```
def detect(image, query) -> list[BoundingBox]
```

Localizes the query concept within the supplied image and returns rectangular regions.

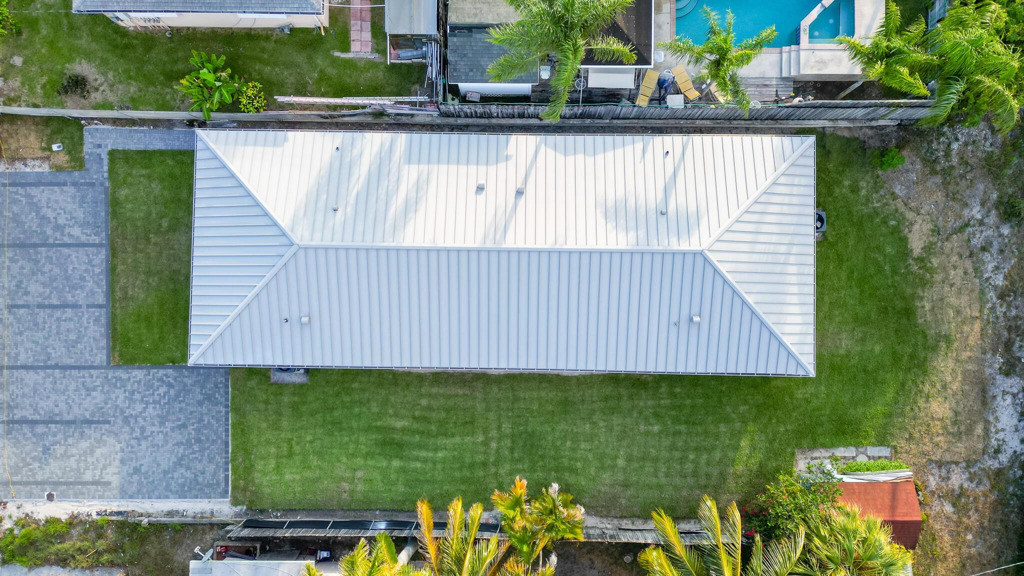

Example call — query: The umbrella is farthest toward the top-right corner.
[651,75,675,107]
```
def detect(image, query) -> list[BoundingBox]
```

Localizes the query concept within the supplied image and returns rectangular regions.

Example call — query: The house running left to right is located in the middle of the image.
[189,129,816,376]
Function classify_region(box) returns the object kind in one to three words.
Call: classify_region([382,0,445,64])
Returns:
shed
